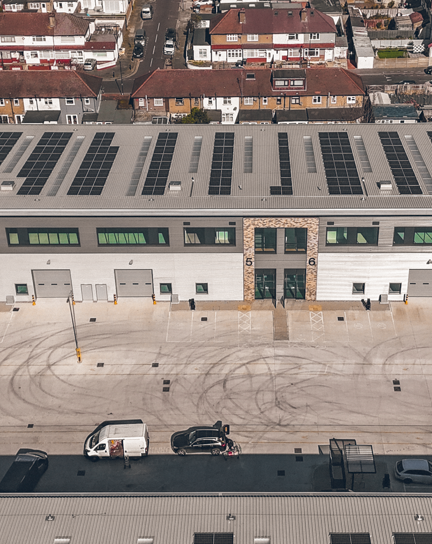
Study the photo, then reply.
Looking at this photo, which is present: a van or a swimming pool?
van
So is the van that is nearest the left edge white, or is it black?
black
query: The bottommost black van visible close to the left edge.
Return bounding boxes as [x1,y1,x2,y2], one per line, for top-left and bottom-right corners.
[0,448,57,494]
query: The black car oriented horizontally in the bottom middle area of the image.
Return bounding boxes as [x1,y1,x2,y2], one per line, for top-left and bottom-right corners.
[176,428,239,458]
